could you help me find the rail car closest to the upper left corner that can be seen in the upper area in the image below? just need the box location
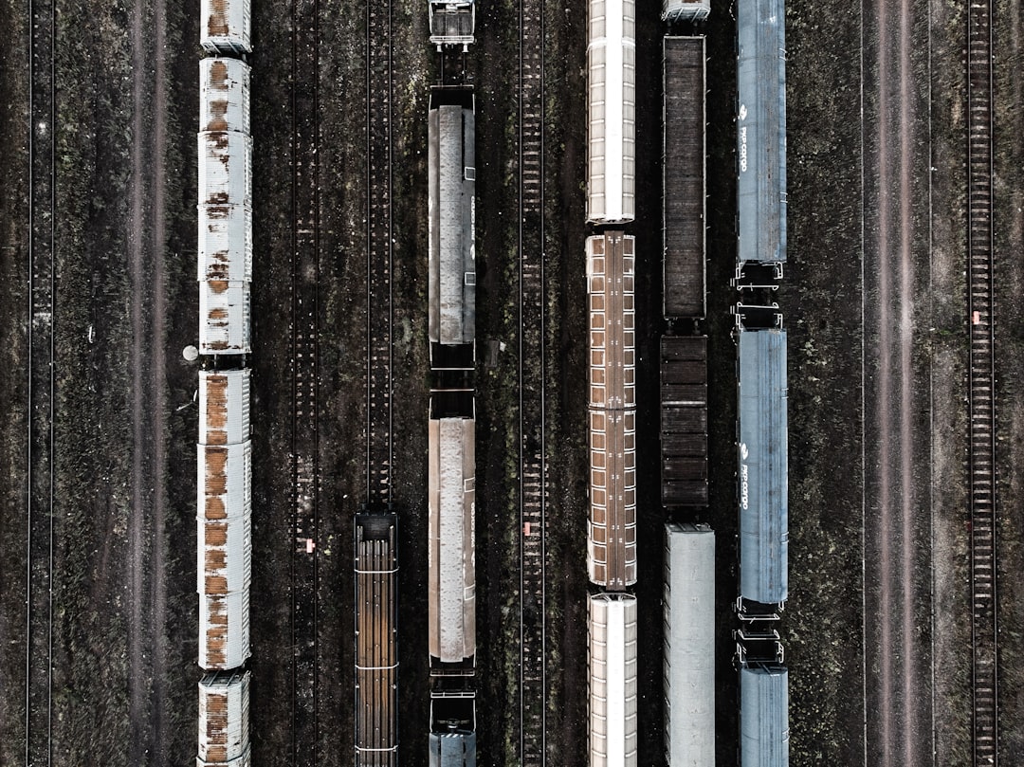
[197,0,252,62]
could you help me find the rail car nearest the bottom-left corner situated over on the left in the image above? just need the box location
[194,665,251,767]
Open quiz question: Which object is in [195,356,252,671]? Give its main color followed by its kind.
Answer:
white rail car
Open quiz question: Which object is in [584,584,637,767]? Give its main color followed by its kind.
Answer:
white rail car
